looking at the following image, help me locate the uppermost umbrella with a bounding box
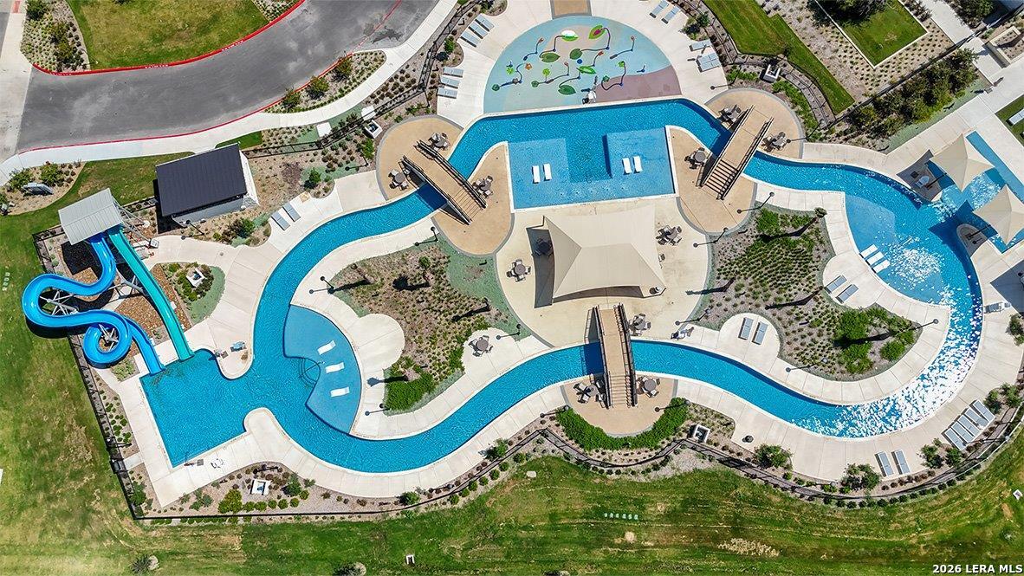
[925,133,994,192]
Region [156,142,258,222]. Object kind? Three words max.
building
